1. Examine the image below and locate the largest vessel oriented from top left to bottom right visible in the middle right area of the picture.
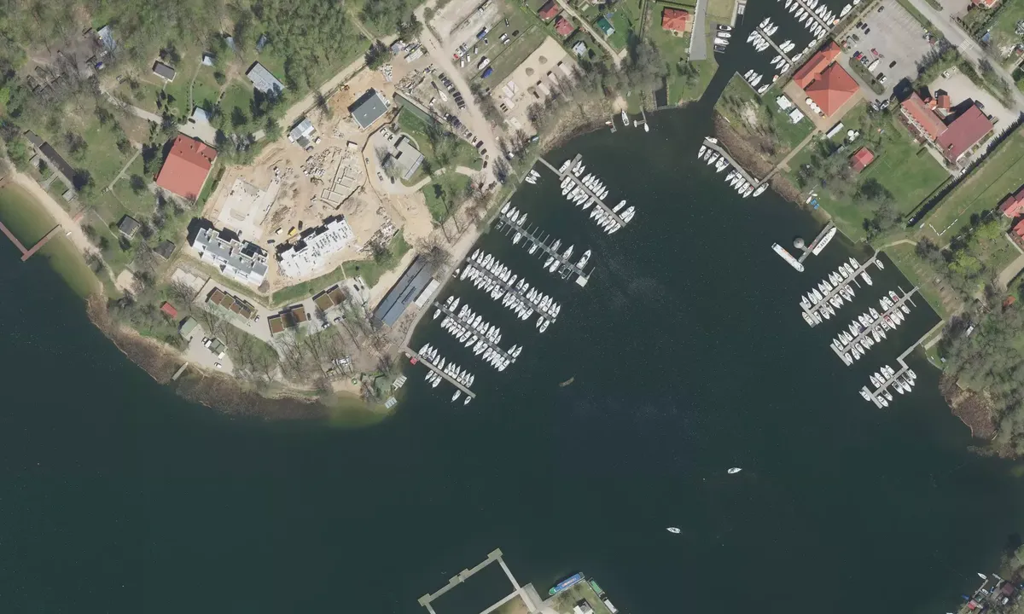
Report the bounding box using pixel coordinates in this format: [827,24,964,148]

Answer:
[770,243,802,272]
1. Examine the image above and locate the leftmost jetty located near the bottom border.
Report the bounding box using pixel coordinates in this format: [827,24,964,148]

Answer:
[418,549,521,614]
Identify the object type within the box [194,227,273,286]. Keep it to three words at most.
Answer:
building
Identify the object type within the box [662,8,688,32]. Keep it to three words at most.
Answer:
house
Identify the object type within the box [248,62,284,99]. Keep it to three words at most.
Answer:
barn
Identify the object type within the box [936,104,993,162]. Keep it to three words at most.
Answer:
building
